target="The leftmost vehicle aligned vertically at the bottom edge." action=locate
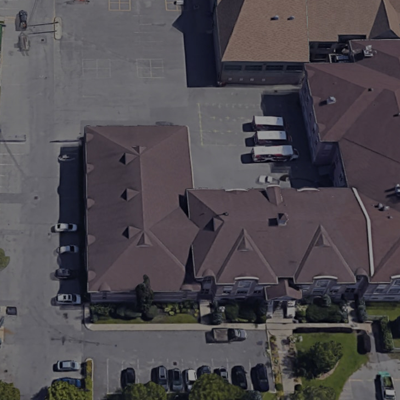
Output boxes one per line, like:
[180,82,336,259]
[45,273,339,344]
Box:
[121,365,135,392]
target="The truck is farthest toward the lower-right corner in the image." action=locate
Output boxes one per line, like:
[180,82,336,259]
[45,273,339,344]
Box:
[375,371,398,400]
